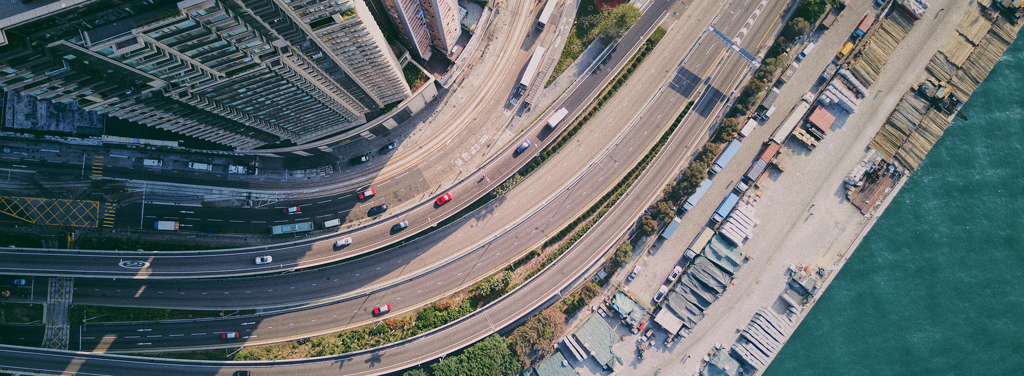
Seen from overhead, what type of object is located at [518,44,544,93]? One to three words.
bus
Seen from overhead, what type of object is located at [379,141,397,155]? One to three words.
car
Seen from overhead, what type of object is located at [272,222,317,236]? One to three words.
vehicle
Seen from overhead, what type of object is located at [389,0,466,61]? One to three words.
building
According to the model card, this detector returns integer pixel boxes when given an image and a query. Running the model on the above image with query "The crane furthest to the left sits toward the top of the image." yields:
[925,82,967,121]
